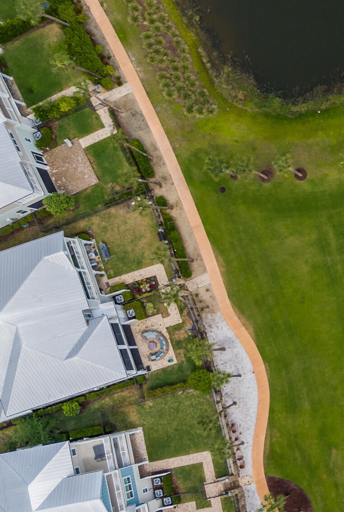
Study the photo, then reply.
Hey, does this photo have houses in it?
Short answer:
Yes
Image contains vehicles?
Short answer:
No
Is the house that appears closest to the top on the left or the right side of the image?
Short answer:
left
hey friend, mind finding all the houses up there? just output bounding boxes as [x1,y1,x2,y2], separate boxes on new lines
[0,429,178,512]
[0,231,150,416]
[0,81,60,220]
